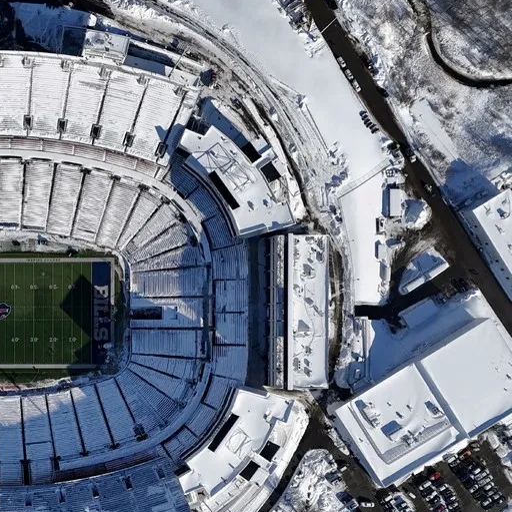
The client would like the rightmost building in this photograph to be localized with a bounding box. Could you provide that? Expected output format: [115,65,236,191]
[458,183,512,282]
